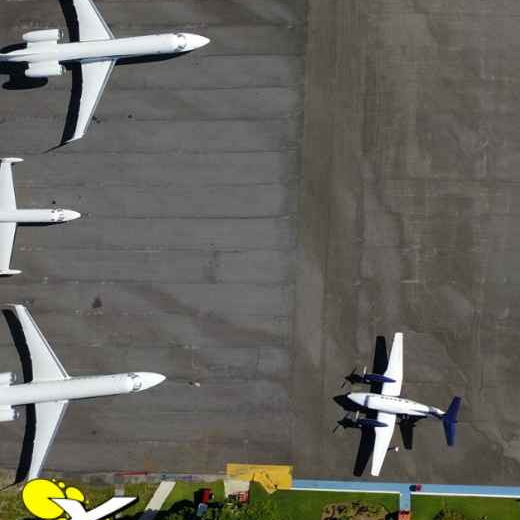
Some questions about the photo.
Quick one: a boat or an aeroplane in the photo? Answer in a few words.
aeroplane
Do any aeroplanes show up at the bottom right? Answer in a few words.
Yes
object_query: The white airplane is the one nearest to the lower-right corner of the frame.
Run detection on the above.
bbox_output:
[348,333,461,474]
